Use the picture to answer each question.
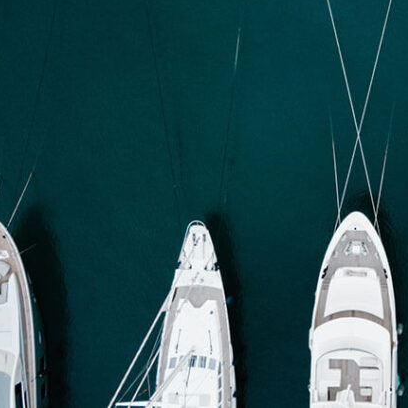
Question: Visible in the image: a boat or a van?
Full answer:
This aerial view contains a boat.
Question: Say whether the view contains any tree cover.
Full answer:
No, the picture contains no tree cover.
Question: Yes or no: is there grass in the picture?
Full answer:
No, there is no grass in the image.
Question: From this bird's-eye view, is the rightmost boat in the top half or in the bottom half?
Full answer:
The rightmost boat sits in the bottom half of the picture.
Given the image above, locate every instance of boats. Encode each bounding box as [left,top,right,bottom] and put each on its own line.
[307,210,399,408]
[111,220,238,408]
[0,217,50,408]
